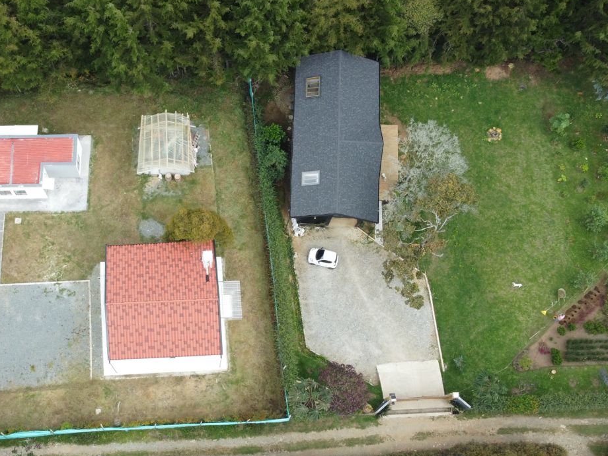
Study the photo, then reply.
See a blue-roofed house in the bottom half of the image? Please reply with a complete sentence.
No, in the bottom half of the image there is no blue-roofed house.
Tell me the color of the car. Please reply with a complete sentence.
The color of the car is white.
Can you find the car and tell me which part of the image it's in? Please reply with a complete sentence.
The car is located in the center region of the scene.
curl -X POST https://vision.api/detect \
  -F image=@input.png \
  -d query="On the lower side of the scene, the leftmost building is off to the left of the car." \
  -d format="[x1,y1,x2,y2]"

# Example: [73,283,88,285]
[103,239,224,364]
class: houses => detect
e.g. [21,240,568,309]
[0,125,82,198]
[290,50,384,232]
[103,239,224,364]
